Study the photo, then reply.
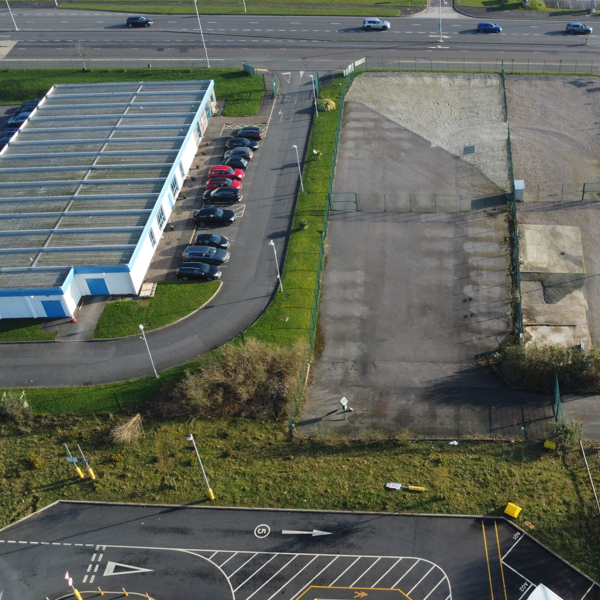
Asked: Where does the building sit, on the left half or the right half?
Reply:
left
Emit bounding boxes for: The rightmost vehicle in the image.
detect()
[566,22,591,34]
